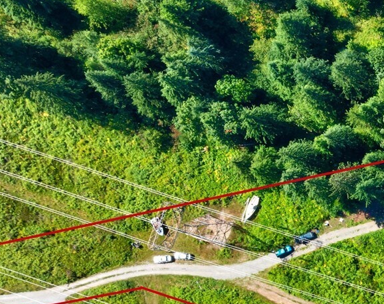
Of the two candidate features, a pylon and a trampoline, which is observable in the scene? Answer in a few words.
pylon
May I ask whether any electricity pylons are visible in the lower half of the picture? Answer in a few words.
Yes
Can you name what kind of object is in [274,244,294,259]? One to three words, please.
vehicle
